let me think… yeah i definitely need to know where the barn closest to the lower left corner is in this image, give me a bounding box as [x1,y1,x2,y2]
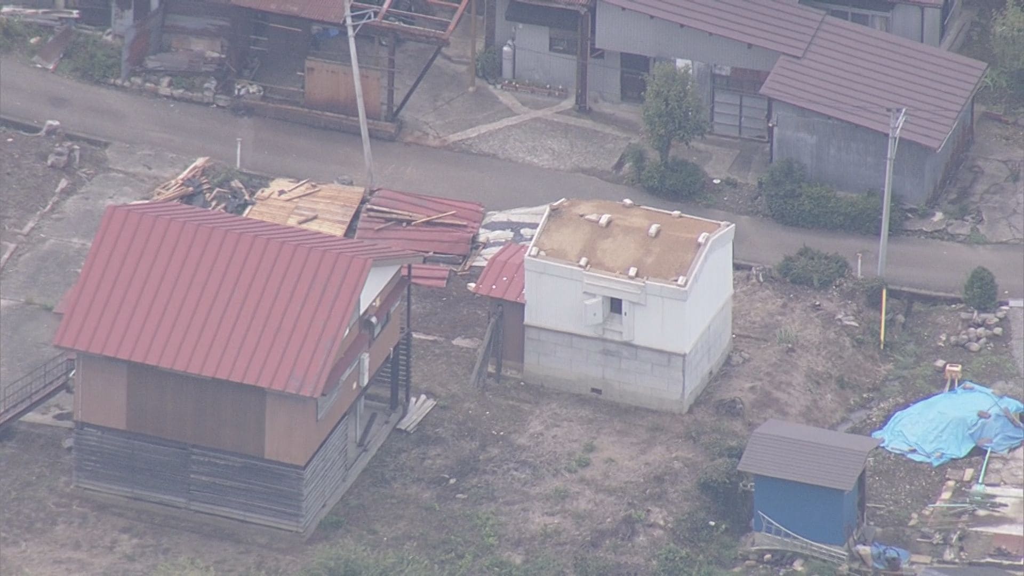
[53,200,424,538]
